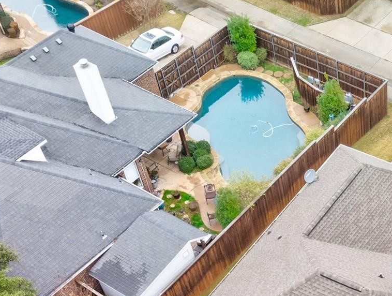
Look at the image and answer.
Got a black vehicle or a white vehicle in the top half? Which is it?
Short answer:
white vehicle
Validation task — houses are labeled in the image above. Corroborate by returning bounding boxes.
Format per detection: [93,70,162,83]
[209,144,392,296]
[0,19,198,296]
